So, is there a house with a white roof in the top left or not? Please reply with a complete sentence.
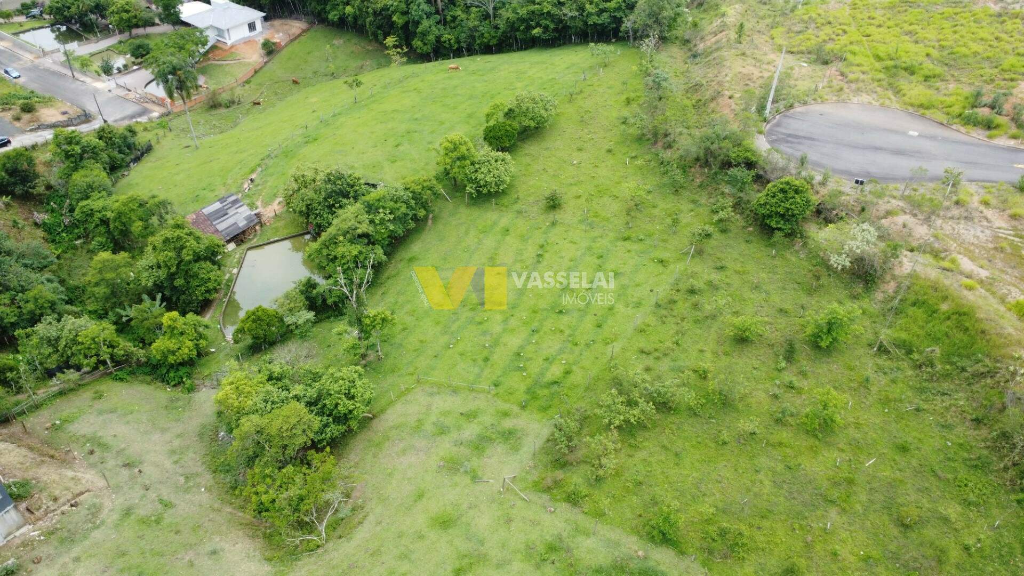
Yes, in the top left there is a house with a white roof.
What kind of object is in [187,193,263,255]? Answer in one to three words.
barn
